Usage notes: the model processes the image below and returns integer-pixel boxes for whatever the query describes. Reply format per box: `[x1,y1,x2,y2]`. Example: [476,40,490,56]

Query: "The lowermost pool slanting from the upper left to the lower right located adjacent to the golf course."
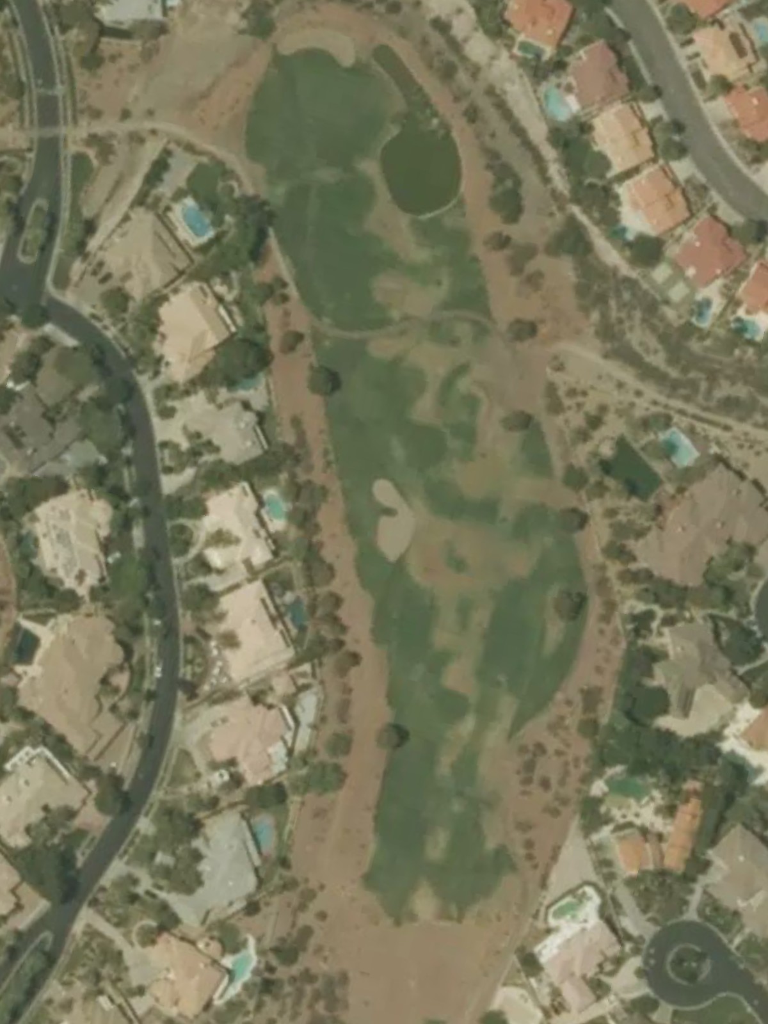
[590,773,673,835]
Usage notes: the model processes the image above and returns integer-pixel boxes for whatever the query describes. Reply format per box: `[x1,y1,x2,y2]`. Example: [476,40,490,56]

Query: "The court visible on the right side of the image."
[605,432,663,503]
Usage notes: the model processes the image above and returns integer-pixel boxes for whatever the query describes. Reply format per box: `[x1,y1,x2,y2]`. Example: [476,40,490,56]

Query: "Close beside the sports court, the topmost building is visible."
[637,464,768,590]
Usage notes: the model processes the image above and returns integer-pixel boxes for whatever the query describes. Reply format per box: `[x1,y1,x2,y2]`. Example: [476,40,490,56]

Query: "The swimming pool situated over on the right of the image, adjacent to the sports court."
[658,427,701,469]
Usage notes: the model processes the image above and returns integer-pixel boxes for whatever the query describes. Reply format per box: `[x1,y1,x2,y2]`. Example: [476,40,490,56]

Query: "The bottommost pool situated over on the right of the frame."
[533,886,600,964]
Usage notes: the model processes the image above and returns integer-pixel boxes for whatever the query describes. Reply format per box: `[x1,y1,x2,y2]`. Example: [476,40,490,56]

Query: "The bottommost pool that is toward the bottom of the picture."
[218,934,257,1003]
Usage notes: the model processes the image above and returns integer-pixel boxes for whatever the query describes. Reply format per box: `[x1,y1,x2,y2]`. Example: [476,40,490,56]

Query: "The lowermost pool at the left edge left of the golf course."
[12,627,41,663]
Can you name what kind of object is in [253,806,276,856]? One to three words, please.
swimming pool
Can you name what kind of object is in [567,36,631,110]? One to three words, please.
house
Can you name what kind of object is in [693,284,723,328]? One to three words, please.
swimming pool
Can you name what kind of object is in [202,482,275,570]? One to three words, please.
house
